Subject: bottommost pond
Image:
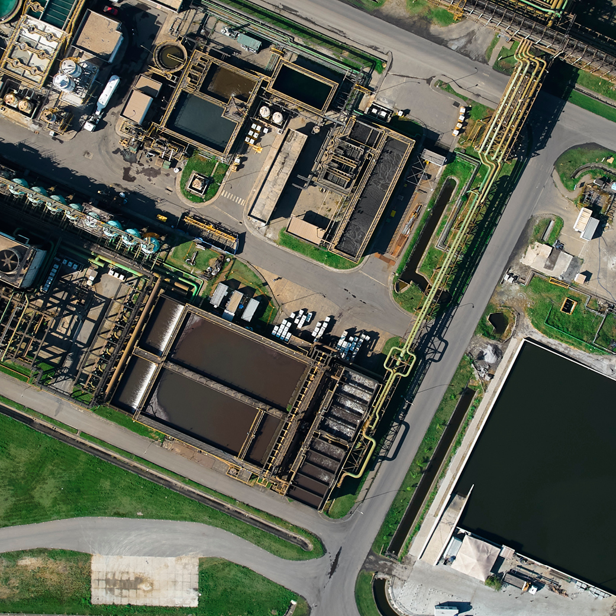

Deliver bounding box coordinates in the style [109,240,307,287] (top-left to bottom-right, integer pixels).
[419,339,616,593]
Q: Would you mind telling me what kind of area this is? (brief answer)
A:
industrial area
